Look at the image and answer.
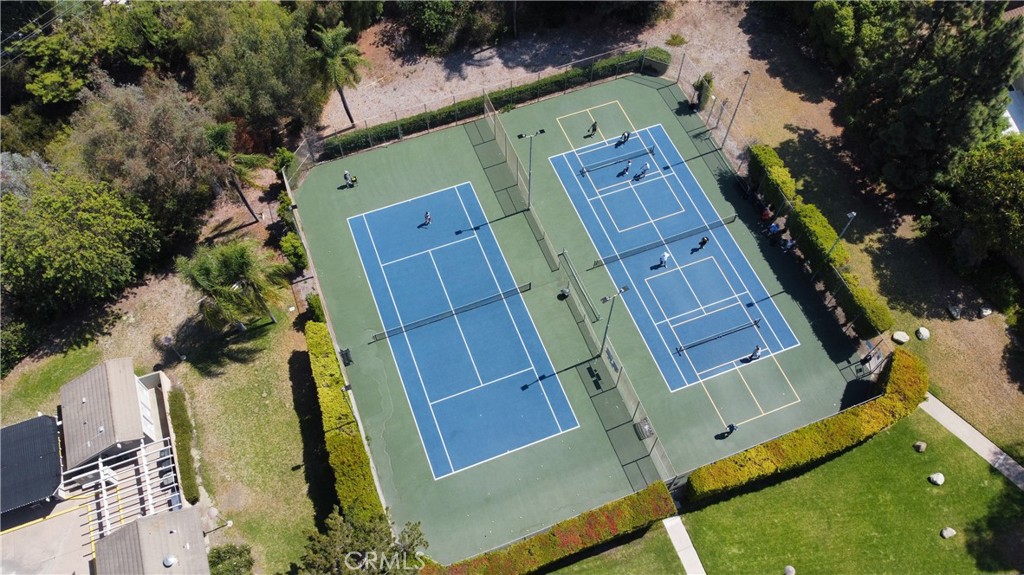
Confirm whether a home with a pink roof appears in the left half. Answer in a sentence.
No, no home with a pink roof is visible in the left half.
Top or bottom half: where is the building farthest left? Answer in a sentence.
The bottom half of the photo is where the building farthest left is.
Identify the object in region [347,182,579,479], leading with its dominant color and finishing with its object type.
blue tennis court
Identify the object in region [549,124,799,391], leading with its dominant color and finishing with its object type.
blue tennis court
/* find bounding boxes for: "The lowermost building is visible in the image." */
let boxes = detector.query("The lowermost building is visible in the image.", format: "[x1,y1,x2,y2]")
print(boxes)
[95,506,216,575]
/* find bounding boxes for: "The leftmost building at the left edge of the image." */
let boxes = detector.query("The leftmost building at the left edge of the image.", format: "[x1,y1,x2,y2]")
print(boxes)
[0,410,70,523]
